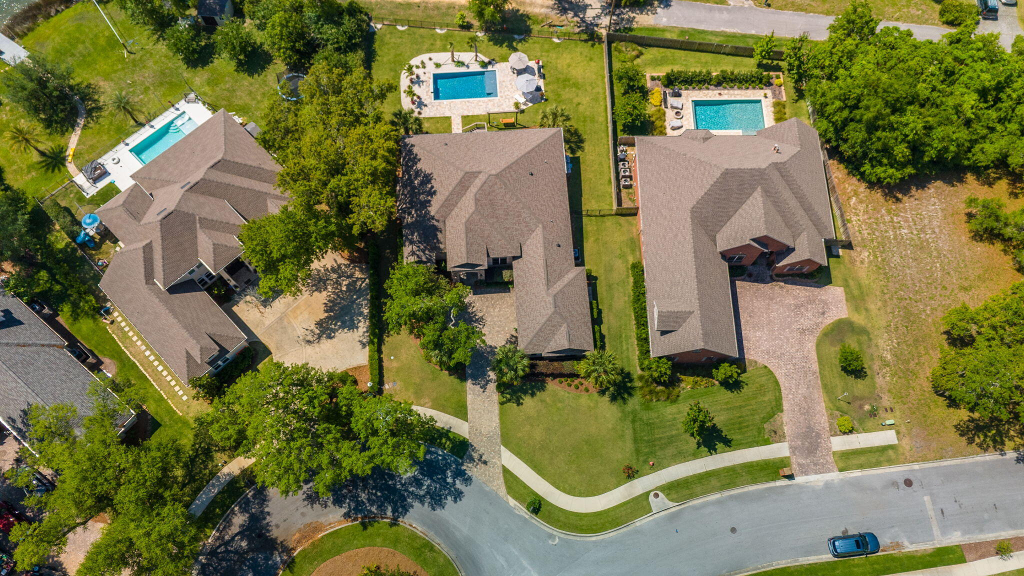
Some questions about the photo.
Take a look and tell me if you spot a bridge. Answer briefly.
No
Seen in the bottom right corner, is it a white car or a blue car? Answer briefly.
blue car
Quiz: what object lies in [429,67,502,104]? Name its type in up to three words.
swimming pool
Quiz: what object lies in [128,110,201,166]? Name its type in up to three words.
swimming pool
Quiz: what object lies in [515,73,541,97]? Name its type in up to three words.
umbrella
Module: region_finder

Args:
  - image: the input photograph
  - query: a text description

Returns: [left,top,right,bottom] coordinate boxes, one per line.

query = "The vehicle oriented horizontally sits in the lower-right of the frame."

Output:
[826,531,880,559]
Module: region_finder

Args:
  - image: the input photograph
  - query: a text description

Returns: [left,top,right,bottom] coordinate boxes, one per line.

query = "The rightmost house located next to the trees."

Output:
[632,117,836,365]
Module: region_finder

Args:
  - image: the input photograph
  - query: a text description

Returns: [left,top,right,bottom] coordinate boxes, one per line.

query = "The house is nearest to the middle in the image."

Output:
[400,127,594,358]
